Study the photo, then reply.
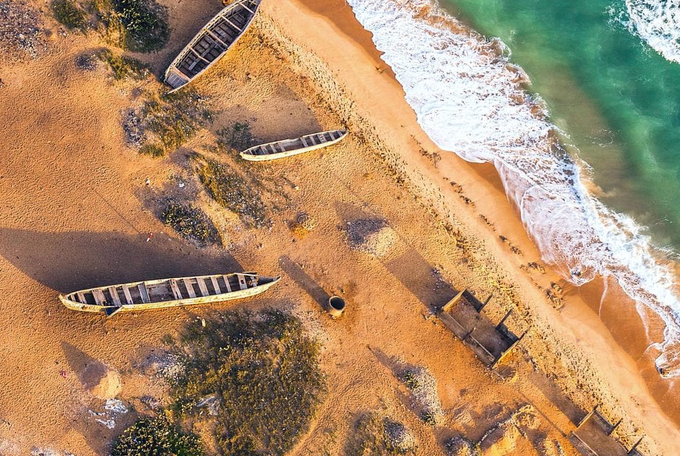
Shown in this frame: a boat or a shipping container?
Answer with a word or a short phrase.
boat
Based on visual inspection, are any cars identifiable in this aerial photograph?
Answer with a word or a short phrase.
No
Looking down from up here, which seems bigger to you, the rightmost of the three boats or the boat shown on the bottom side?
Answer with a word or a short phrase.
the boat shown on the bottom side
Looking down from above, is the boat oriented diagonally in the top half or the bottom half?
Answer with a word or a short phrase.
top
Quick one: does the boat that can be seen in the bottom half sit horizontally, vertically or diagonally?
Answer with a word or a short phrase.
horizontally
